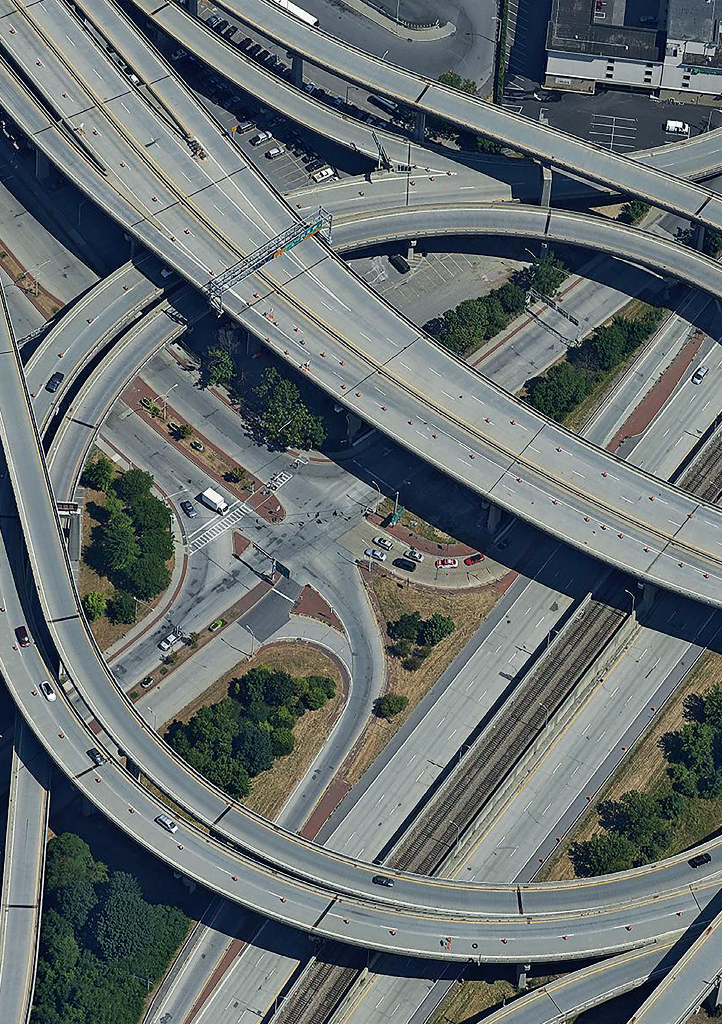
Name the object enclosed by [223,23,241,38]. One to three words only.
car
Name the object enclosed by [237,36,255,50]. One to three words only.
car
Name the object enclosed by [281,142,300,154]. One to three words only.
vehicle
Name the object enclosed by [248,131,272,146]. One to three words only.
vehicle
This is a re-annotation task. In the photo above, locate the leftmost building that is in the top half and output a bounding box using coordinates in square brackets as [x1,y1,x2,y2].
[540,0,666,99]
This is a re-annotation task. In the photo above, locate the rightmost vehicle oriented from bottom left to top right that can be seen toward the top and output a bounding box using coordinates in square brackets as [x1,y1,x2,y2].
[693,367,708,384]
